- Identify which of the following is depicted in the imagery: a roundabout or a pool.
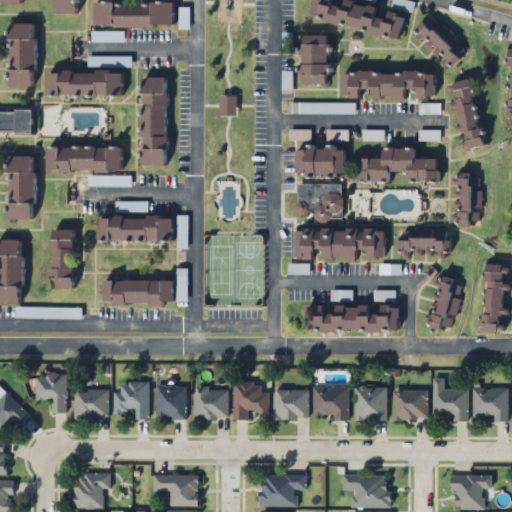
pool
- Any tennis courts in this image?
Yes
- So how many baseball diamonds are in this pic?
none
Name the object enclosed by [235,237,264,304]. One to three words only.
basketball court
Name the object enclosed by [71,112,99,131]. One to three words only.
swimming pool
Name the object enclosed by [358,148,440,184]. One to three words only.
building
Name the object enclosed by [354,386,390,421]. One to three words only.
house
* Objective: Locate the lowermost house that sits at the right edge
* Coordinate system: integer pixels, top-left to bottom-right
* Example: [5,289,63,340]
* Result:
[451,475,492,510]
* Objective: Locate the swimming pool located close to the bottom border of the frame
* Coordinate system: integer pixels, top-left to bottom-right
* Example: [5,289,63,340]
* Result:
[496,492,512,508]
